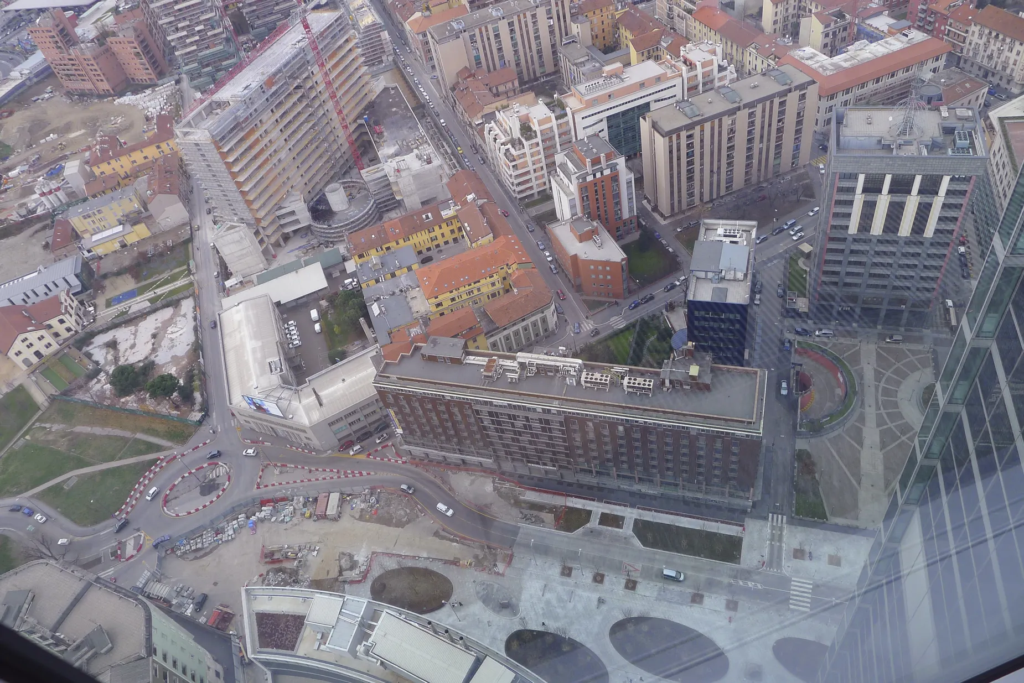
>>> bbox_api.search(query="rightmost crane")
[297,0,368,171]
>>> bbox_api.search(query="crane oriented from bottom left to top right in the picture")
[173,0,323,122]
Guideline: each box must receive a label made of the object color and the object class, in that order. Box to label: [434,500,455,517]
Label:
white vehicle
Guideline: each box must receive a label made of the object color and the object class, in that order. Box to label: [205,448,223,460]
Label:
gray vehicle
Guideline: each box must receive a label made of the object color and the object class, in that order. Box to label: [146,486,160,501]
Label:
white car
